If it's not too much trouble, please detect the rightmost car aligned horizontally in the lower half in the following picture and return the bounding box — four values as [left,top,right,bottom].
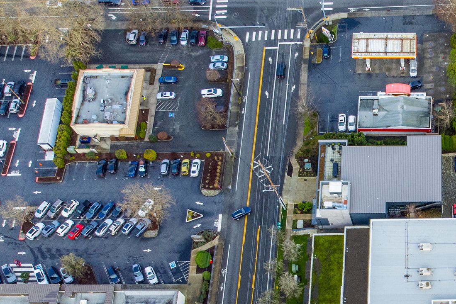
[231,208,252,220]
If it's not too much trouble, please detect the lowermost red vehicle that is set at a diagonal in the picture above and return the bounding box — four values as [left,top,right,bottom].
[67,222,85,241]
